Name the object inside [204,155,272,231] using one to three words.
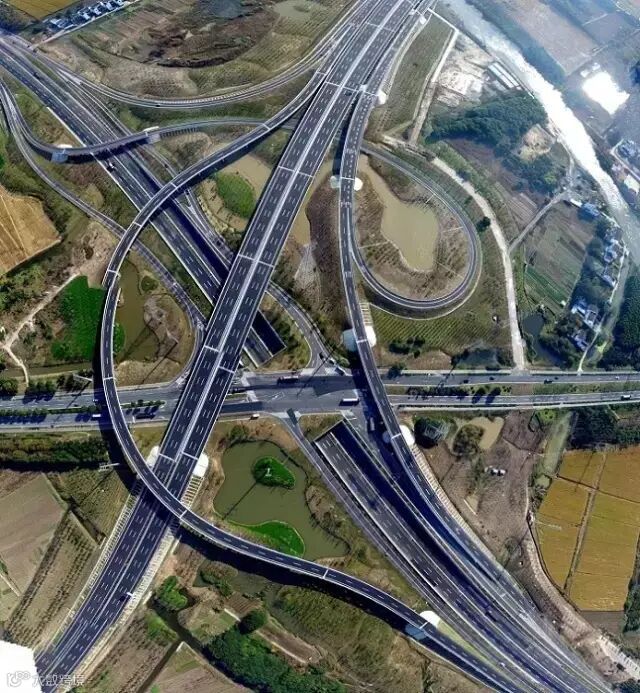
pond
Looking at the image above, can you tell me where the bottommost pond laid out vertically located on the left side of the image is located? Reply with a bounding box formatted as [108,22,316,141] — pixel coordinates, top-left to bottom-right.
[114,259,158,365]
